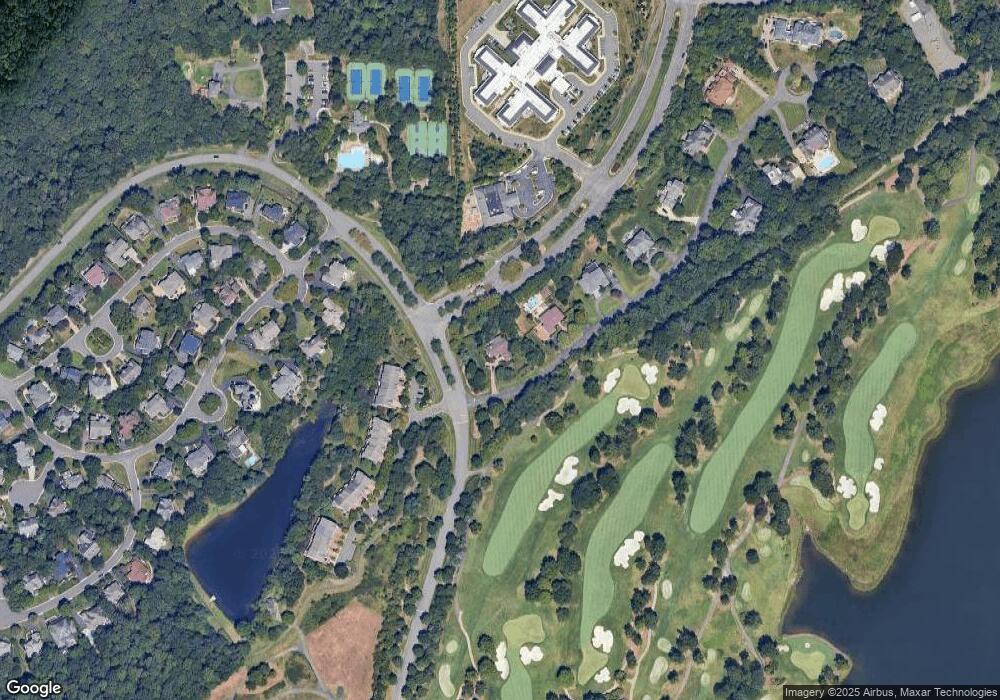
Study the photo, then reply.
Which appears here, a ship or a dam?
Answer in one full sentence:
Visible in the photo is a dam.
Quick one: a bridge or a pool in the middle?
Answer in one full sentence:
What appears in the middle is a pool.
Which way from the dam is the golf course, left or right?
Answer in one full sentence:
From the viewer's perspective, the golf course falls to the right of the dam.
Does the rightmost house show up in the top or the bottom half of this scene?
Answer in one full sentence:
The top half of the photo is where the rightmost house is.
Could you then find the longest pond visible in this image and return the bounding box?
[187,404,335,619]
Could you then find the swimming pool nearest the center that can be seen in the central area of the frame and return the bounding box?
[524,294,548,316]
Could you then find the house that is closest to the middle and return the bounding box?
[485,334,510,360]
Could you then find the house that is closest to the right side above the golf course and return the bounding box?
[870,68,905,98]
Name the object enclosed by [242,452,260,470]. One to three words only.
swimming pool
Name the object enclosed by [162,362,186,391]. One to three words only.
house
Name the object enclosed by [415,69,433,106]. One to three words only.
tennis court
